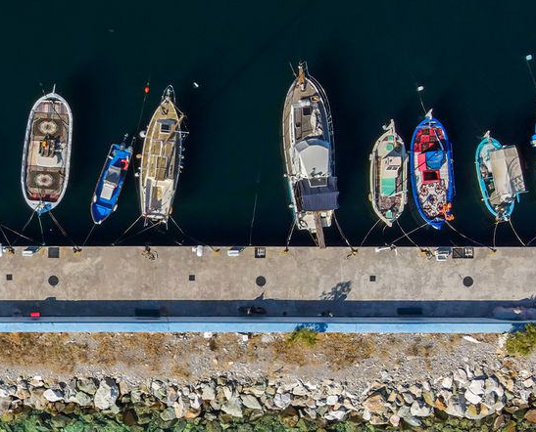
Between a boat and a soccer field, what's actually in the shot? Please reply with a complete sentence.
There is a boat in the scene.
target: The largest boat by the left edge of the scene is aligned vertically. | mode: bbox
[1,85,75,252]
